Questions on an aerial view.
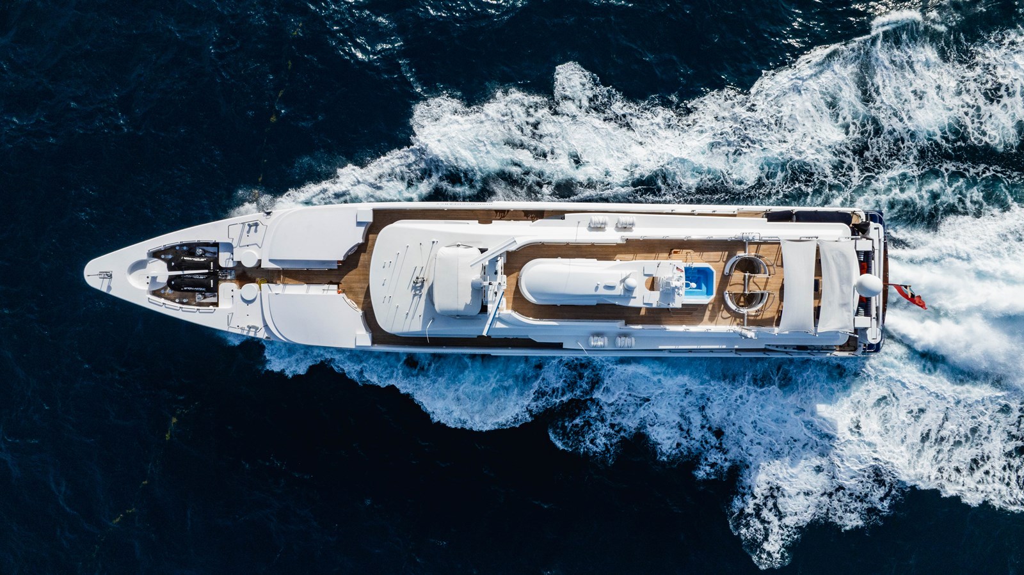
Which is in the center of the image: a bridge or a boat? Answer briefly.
boat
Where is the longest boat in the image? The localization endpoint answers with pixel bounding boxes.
[84,201,912,358]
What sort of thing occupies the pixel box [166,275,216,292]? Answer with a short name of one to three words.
boat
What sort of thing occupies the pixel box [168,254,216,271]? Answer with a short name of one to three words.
boat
